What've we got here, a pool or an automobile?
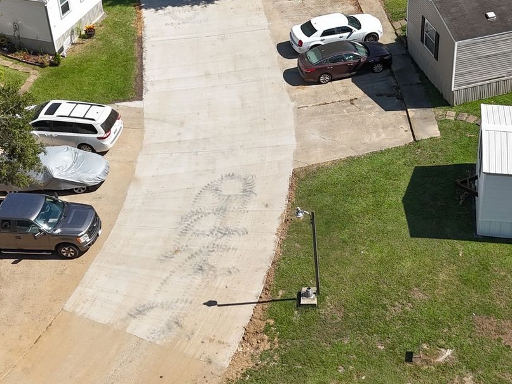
automobile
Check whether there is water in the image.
No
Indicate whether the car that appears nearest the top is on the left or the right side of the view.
right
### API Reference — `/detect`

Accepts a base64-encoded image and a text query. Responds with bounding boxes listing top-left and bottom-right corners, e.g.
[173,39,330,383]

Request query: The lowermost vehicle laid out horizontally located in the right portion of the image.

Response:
[295,37,395,82]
